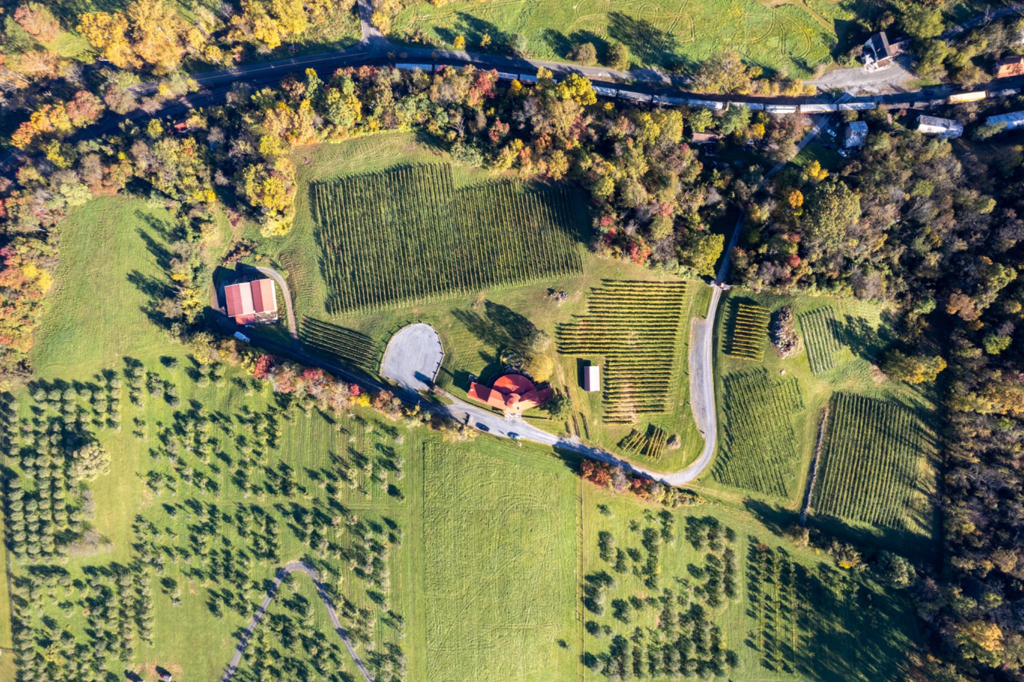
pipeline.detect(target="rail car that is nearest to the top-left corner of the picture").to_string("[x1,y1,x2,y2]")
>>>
[395,61,434,74]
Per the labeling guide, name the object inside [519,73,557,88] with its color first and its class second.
blue rail car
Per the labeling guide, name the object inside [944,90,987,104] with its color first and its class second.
white rail car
